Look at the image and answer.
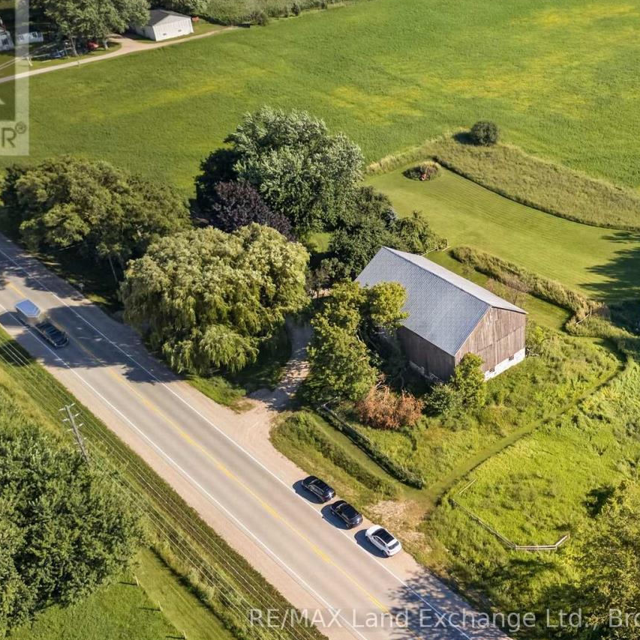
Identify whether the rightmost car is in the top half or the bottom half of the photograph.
bottom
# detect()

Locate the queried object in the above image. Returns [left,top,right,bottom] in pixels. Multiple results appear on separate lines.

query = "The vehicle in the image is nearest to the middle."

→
[299,475,335,504]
